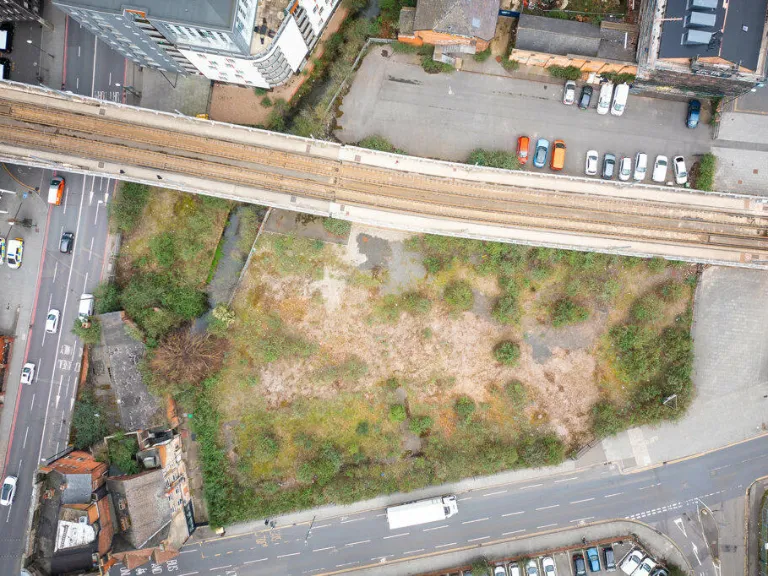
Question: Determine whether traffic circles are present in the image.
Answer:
No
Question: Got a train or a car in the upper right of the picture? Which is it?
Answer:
car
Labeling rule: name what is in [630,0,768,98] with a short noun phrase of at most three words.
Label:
building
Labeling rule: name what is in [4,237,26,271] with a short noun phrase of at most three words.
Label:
vehicle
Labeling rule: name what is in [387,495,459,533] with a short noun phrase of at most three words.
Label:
truck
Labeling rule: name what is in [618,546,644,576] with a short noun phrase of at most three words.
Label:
car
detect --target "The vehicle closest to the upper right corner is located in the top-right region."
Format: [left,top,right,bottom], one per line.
[684,98,702,129]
